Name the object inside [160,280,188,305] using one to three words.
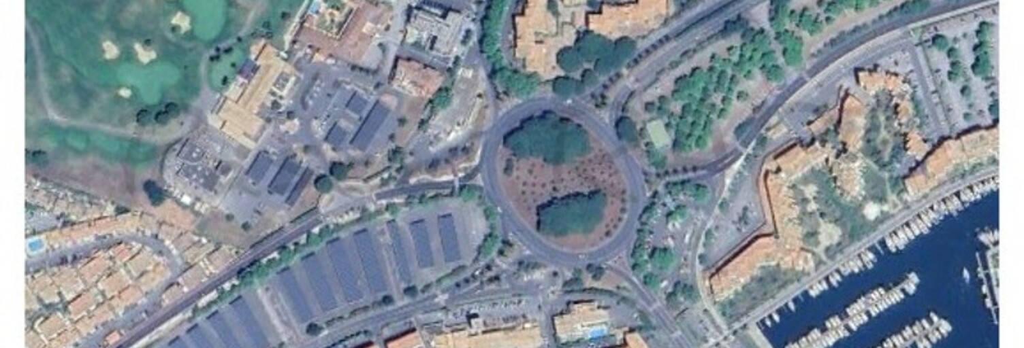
house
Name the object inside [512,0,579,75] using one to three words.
building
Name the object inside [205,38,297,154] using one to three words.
building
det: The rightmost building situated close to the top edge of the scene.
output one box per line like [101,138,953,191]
[588,0,670,39]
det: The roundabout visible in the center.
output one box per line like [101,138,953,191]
[477,95,651,281]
